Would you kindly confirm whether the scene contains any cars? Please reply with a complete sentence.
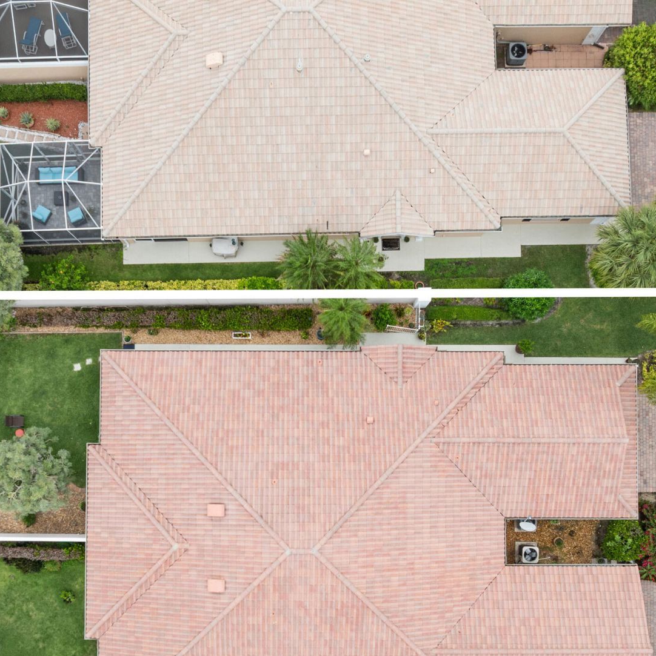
No, there appears to be no car in this shot.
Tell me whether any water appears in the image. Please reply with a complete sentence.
No, the picture contains no water.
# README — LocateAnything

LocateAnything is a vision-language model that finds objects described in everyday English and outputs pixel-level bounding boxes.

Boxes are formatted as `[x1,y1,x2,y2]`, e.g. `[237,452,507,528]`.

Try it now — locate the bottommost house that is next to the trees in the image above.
[83,343,654,656]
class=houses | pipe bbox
[83,343,654,656]
[85,0,634,247]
